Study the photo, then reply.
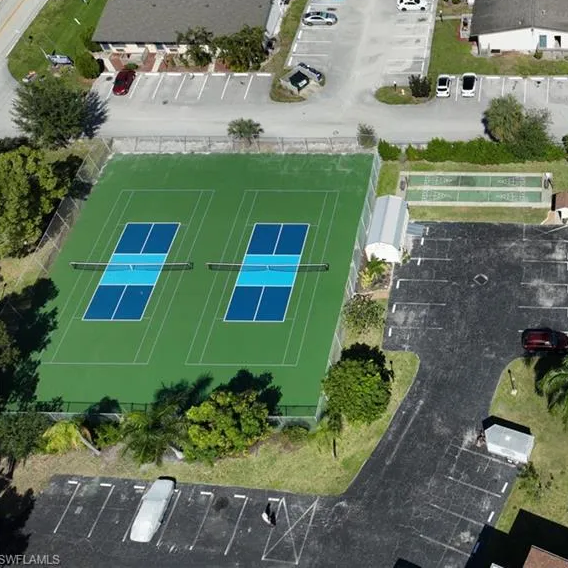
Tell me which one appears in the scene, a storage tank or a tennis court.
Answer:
tennis court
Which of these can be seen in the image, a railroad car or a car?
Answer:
car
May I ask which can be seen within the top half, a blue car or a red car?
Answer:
red car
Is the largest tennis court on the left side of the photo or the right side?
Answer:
left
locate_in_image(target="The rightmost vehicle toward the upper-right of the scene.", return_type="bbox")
[460,73,477,97]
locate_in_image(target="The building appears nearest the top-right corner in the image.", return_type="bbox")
[470,0,568,52]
